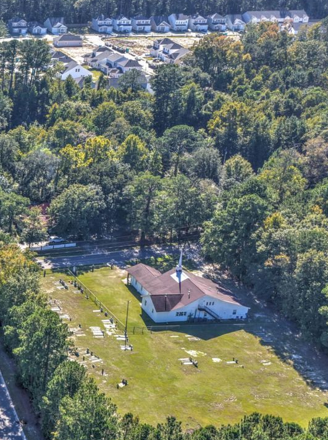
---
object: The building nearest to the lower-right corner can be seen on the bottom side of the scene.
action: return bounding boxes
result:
[124,250,254,323]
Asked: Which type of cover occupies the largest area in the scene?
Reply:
trees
